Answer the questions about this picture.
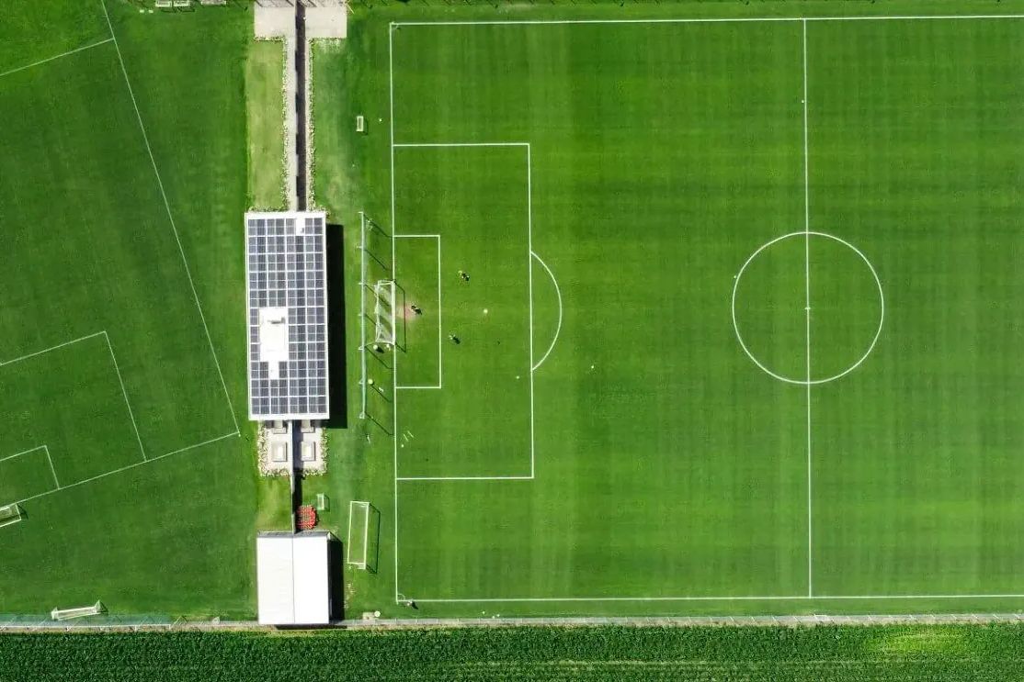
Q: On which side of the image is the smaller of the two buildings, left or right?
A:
left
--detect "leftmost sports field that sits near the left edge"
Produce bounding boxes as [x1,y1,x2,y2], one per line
[0,0,239,507]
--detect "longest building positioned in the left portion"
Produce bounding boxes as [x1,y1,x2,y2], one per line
[245,211,333,421]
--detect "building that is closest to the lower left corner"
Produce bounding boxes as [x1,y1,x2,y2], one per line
[258,533,332,626]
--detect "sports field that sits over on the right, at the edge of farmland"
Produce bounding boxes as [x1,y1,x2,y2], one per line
[390,15,1024,603]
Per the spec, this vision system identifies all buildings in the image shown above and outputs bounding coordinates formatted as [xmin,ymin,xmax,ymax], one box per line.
[245,211,333,421]
[258,533,332,626]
